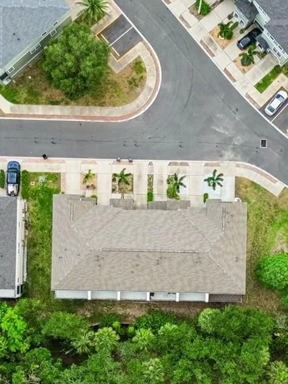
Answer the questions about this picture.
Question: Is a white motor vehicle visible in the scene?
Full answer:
Yes, the frame does contain a white motor vehicle.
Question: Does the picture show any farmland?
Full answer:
No, no farmland is visible.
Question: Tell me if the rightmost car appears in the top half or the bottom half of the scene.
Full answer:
The rightmost car is in the top half of the image.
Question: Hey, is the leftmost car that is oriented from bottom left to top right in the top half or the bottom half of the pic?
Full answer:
It is in the top half that the leftmost car that is oriented from bottom left to top right appears.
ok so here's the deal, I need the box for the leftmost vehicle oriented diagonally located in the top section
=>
[234,24,260,50]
